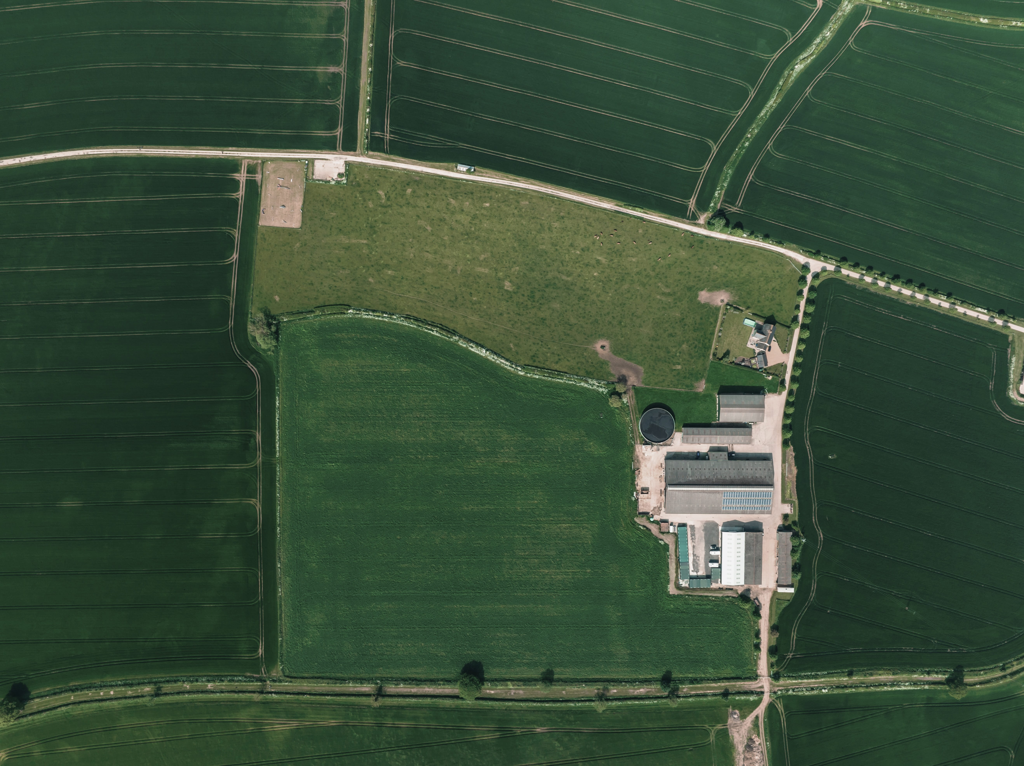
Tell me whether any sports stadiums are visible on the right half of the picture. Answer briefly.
No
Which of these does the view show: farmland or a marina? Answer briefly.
farmland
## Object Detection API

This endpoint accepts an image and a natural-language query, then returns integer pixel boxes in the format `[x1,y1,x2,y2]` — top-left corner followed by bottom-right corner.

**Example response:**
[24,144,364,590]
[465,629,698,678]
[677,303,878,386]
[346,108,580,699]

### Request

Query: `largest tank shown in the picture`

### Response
[639,408,675,445]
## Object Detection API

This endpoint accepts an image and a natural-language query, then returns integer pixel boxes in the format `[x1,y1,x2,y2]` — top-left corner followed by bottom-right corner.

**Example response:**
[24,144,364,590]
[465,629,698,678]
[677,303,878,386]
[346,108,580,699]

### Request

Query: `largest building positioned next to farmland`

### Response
[665,460,775,514]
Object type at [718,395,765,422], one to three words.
barn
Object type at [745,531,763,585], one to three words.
barn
